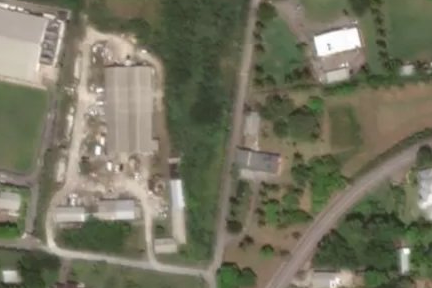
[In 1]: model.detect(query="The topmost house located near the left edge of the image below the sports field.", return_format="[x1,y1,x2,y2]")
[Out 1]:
[0,193,20,211]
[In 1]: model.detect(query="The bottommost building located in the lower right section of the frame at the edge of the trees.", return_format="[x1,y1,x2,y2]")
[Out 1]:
[313,271,340,288]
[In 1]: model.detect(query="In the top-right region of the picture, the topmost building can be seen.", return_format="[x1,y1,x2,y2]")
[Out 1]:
[314,28,361,56]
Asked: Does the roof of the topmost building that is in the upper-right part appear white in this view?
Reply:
Yes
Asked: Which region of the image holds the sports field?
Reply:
left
